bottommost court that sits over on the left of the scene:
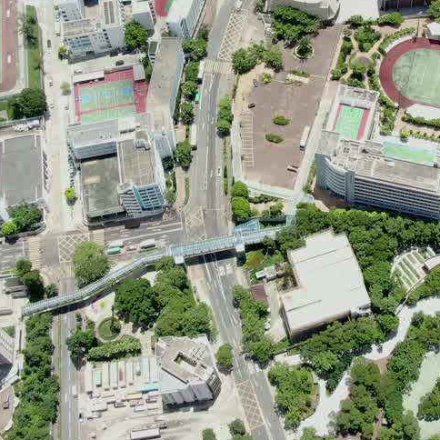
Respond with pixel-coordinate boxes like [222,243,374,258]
[75,66,148,126]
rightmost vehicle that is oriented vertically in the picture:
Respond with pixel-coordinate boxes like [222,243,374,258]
[299,122,312,149]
